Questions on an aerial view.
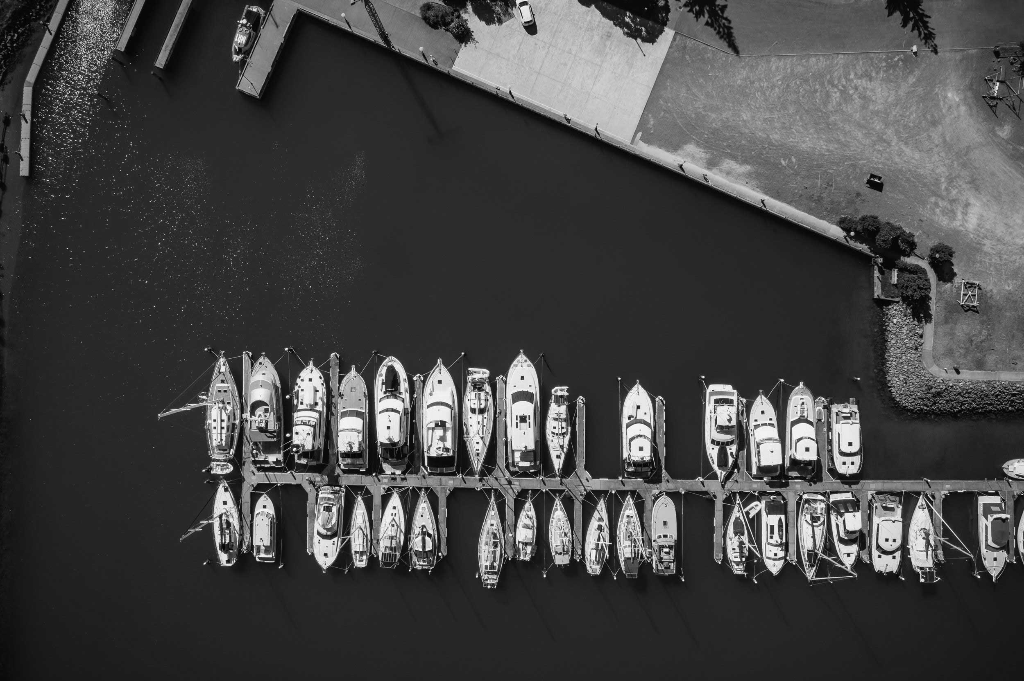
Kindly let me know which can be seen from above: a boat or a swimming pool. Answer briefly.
boat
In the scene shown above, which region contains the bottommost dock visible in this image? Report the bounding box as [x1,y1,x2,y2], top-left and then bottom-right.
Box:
[242,351,1024,562]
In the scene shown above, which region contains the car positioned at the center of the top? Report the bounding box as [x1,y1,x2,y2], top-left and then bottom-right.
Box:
[515,0,535,26]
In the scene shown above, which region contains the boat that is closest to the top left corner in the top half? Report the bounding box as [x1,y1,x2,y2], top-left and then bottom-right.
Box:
[230,1,266,71]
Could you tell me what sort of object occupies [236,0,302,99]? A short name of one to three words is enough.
pier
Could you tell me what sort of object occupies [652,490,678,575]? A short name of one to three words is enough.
boat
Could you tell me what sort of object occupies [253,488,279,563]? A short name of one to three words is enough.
boat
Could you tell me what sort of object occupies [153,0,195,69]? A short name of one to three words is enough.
pier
